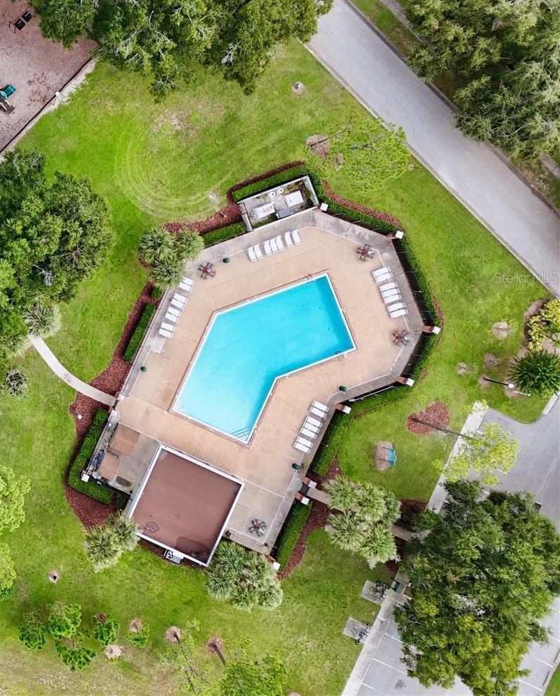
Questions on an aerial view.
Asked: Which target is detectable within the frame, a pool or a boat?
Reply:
pool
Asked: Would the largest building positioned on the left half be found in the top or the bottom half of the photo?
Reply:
bottom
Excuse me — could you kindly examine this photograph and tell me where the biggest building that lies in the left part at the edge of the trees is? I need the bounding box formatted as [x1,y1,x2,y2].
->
[124,442,246,567]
